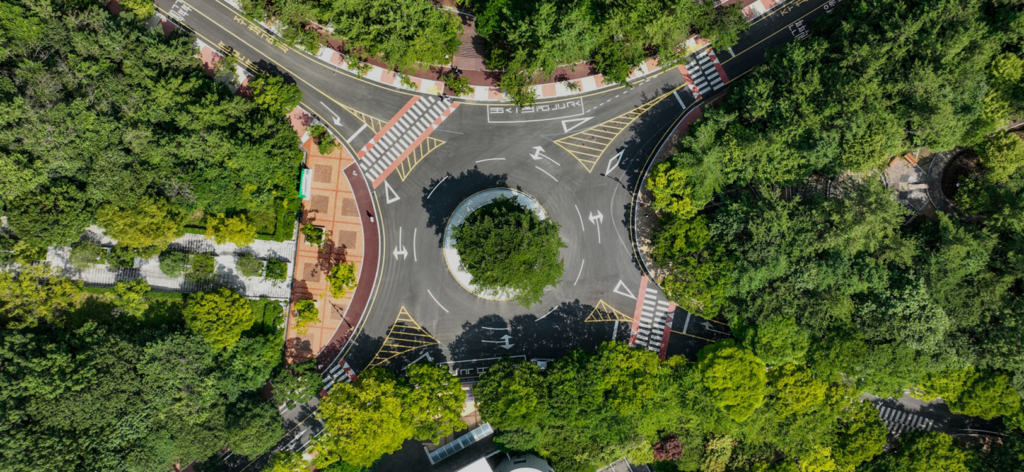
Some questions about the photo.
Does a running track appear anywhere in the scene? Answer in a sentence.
No, the photo shows no running track.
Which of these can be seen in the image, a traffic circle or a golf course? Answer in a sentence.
This aerial view contains a traffic circle.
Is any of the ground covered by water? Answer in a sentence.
No, the picture contains no water.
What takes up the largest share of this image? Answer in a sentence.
What you mostly see from above here is trees.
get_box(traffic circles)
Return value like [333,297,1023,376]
[383,126,619,362]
